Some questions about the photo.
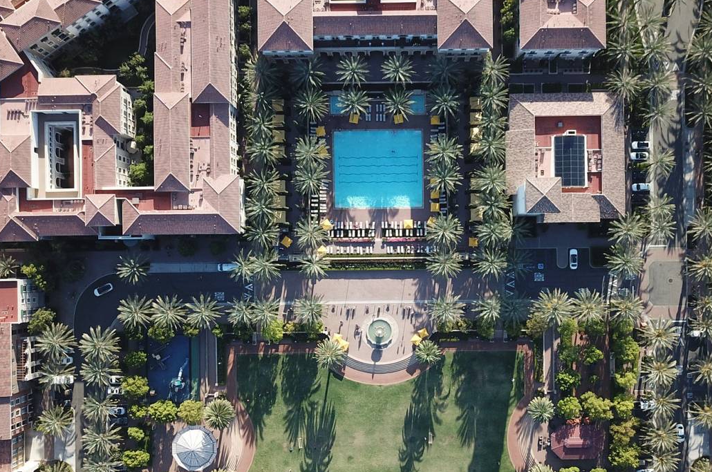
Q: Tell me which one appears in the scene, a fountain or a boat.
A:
fountain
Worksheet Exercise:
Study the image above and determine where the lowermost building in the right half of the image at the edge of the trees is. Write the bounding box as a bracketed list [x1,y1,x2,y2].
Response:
[551,424,597,452]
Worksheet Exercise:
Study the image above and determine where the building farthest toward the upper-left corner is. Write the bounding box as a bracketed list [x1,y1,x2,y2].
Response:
[0,0,250,242]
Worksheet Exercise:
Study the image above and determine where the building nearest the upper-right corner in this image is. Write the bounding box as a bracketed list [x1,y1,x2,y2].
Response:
[512,0,607,75]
